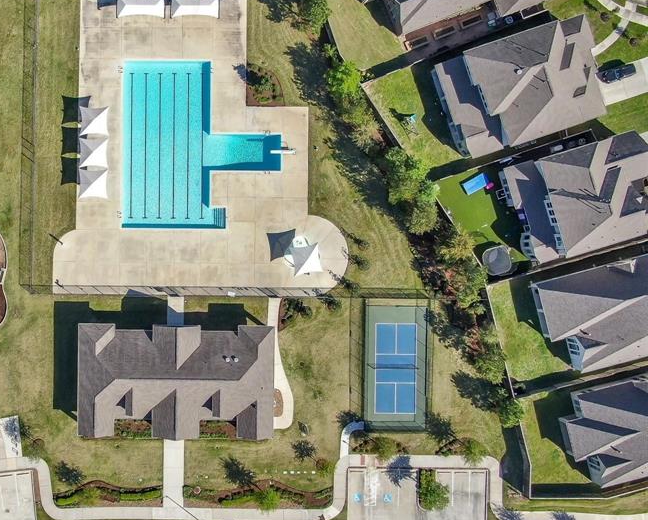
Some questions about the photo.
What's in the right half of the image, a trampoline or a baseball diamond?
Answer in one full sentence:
The feature located in the right half of the image is a trampoline.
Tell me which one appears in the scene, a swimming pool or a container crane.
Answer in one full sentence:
The one in the frame is a swimming pool.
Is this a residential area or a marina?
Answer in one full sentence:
It's a residential area.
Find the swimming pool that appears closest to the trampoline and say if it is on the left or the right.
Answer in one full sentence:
The swimming pool that appears closest to the trampoline is on the right side of the image.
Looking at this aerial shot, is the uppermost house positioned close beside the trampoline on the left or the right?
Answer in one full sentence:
The uppermost house positioned close beside the trampoline sits on the right side.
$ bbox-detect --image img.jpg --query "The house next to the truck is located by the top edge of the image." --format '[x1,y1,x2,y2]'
[429,15,607,159]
